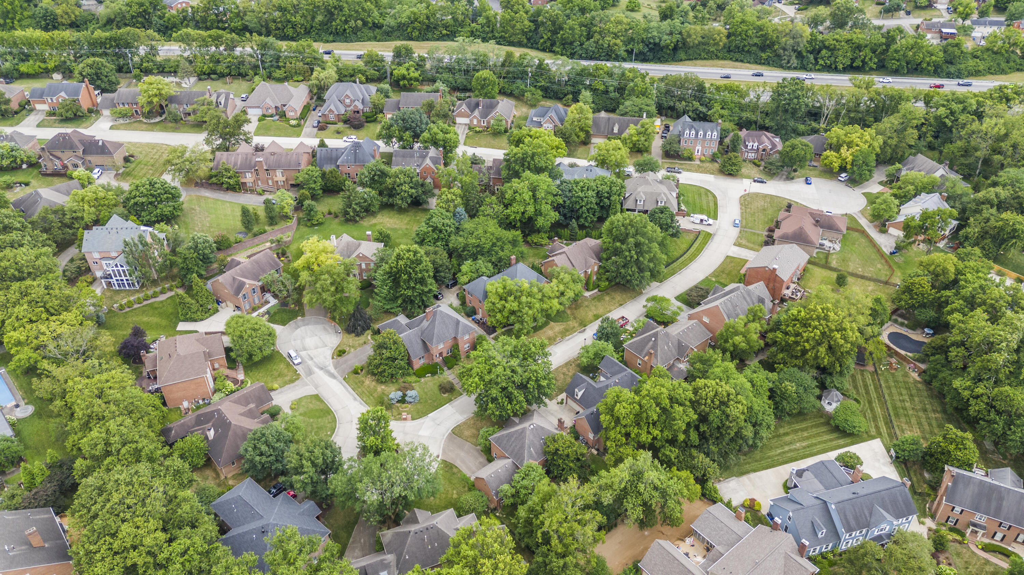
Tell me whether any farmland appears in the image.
No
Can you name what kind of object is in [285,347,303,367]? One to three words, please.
car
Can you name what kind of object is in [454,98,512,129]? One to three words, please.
house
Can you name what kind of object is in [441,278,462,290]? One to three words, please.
vehicle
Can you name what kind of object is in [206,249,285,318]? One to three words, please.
house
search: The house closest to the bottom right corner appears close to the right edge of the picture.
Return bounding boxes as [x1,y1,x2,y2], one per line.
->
[931,466,1024,549]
